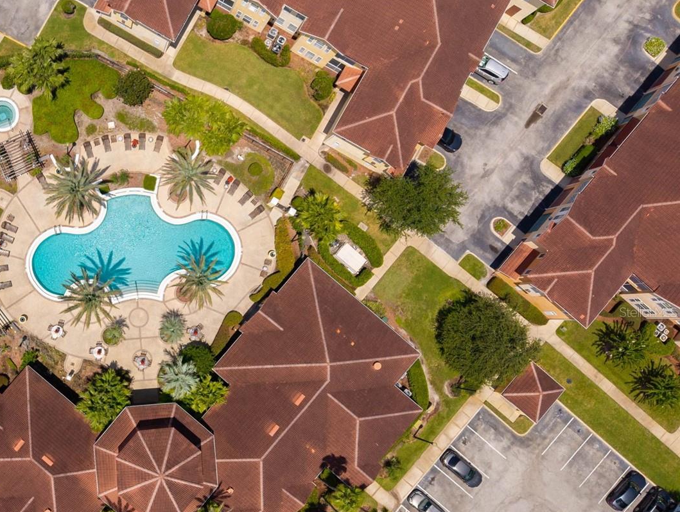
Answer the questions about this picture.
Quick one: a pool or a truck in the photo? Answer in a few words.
pool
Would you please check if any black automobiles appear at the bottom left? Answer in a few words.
No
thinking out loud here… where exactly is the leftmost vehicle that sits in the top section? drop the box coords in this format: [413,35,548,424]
[432,125,472,158]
